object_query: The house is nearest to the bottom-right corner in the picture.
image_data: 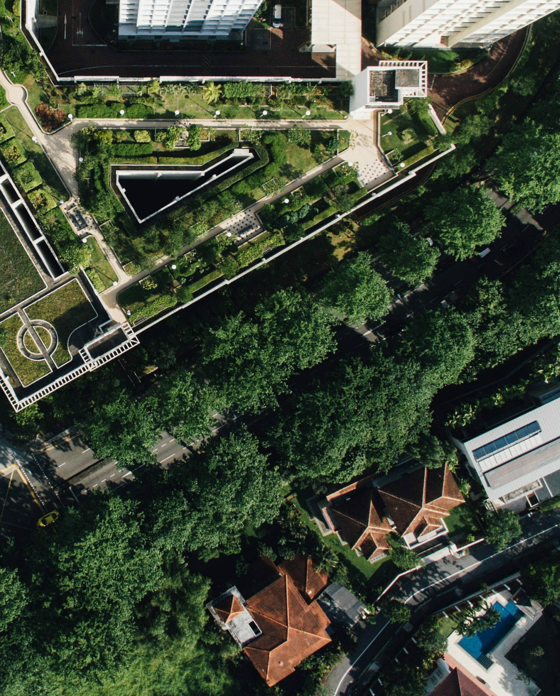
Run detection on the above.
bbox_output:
[423,654,492,696]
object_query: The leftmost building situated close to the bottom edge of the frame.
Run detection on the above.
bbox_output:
[204,549,332,689]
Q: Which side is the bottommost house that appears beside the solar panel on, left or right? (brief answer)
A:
right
